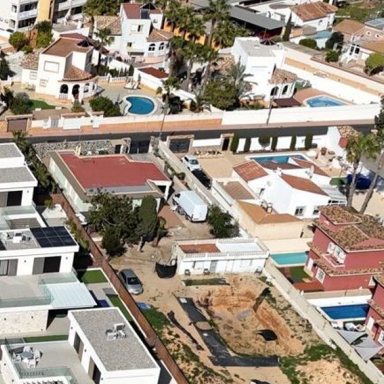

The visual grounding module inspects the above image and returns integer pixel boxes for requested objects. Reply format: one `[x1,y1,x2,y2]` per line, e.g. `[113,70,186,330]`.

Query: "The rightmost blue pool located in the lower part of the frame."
[319,303,371,321]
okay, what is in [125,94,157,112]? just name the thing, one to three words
swimming pool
